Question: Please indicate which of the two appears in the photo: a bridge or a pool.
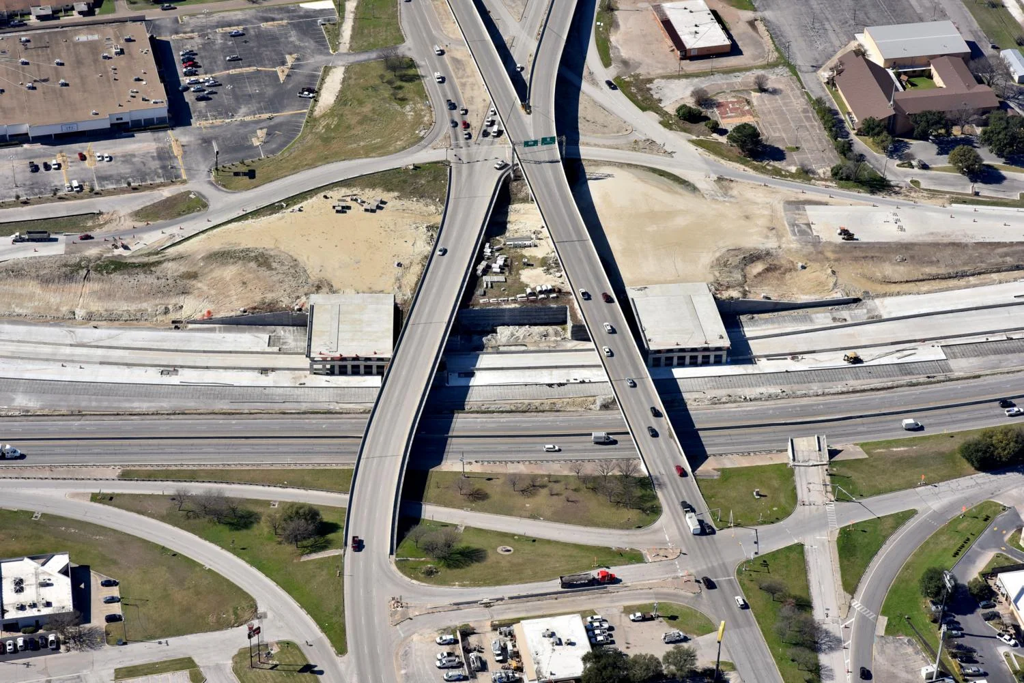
bridge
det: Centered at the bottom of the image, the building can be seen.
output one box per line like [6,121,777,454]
[513,614,600,683]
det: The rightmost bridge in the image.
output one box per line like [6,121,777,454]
[789,433,830,467]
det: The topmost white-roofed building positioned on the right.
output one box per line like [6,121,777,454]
[651,0,731,60]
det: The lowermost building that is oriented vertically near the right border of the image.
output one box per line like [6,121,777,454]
[991,564,1024,632]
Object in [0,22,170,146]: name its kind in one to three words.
building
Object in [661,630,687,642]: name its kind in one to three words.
vehicle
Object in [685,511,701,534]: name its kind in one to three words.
vehicle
